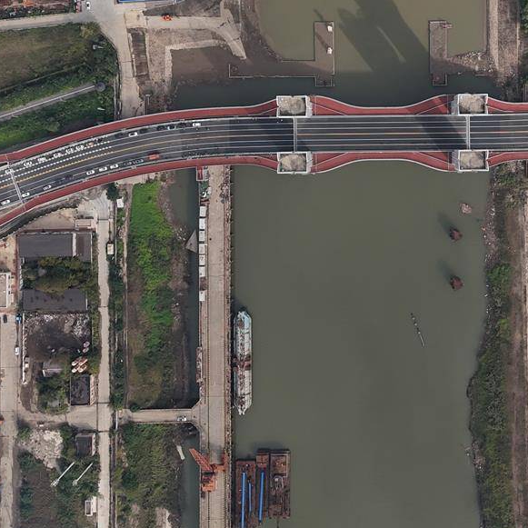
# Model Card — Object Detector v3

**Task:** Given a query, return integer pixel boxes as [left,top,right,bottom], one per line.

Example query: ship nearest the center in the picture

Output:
[234,311,252,416]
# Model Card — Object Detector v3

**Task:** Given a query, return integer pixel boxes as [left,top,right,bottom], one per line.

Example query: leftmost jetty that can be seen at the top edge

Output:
[229,22,334,86]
